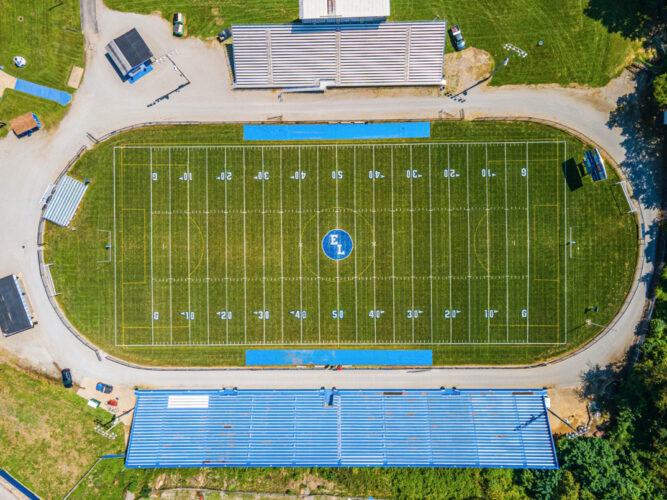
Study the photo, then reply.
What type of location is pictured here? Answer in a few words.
sports ground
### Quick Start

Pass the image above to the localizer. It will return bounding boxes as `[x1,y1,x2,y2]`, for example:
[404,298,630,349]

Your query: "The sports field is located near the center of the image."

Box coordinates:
[41,122,641,367]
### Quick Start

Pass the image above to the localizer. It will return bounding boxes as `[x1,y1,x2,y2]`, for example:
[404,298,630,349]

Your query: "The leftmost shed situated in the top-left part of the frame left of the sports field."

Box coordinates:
[10,112,44,137]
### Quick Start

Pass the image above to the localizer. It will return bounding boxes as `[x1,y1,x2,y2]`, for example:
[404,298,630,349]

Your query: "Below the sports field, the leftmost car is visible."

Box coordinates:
[60,368,72,388]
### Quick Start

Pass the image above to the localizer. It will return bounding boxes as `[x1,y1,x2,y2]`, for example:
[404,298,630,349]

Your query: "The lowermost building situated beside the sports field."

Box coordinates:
[0,274,38,335]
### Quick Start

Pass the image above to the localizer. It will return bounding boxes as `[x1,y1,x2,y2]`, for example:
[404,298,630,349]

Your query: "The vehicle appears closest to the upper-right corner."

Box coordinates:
[449,25,463,50]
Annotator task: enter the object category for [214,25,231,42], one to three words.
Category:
vehicle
